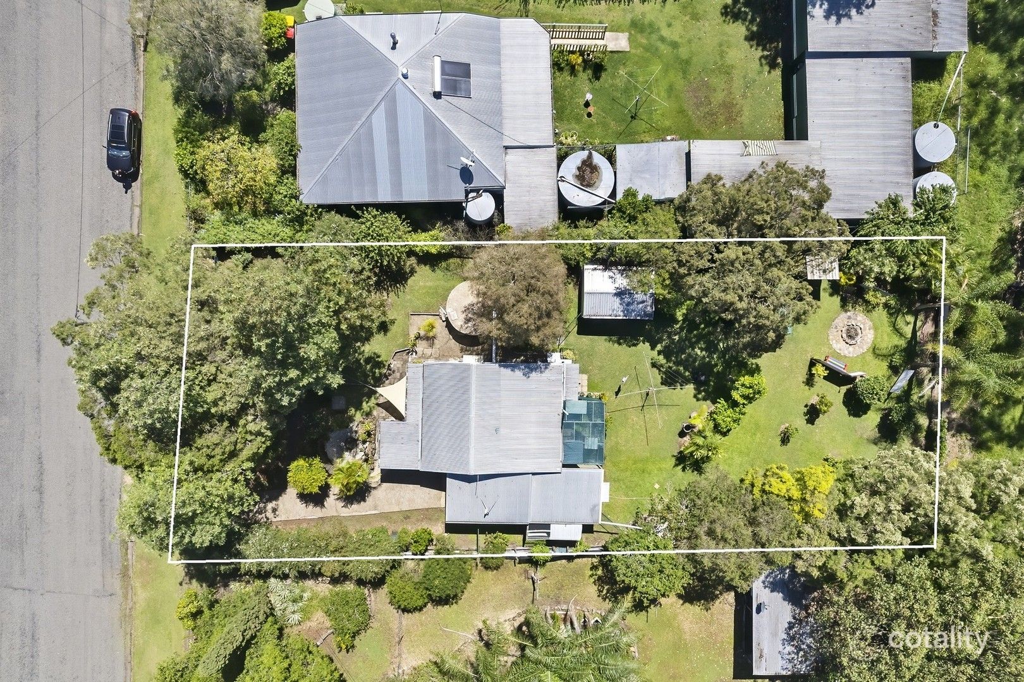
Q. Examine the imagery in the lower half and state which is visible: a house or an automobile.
house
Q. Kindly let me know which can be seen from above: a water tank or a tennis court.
water tank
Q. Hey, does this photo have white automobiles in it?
No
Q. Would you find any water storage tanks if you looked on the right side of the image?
Yes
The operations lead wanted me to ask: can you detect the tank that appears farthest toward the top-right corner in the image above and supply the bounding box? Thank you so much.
[913,122,956,171]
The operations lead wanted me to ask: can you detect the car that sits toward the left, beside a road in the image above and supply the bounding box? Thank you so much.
[104,108,143,175]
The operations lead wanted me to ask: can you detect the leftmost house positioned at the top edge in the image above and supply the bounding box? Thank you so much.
[295,10,558,231]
